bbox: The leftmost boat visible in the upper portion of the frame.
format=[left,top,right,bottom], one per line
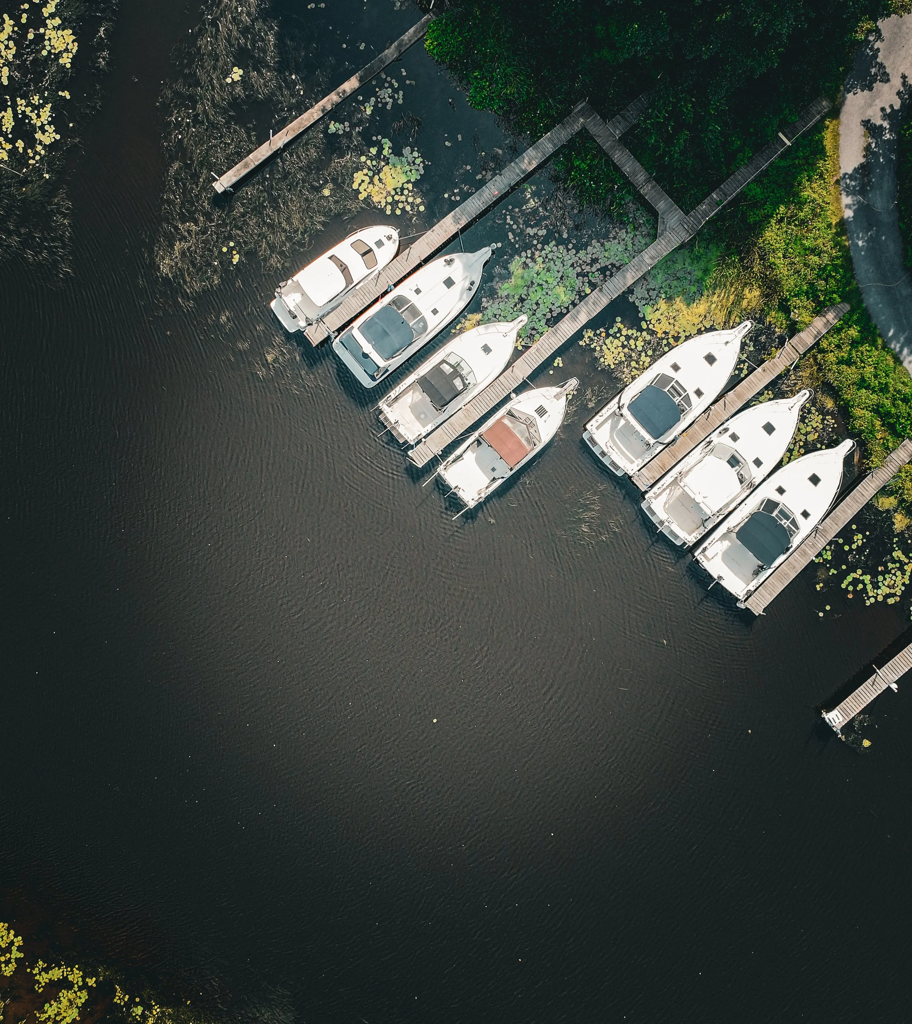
[270,229,400,332]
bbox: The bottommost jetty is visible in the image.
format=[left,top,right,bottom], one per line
[819,641,912,739]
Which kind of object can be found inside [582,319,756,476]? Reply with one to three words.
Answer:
boat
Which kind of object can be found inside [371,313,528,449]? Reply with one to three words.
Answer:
boat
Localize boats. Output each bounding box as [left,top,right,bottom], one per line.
[423,377,580,519]
[693,438,857,602]
[331,243,498,390]
[582,319,756,476]
[641,388,815,548]
[270,229,400,332]
[371,313,528,449]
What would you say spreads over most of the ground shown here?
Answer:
water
